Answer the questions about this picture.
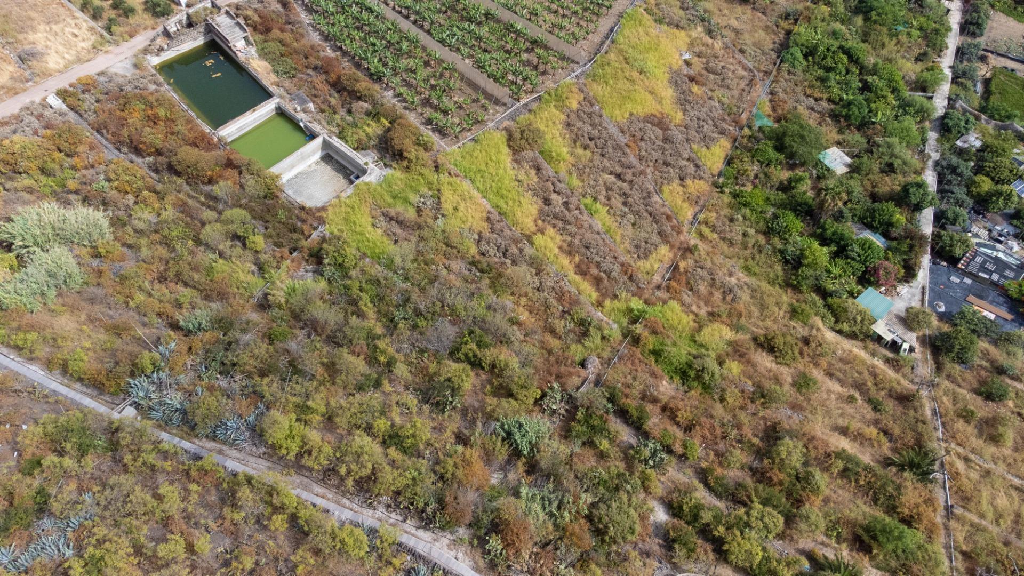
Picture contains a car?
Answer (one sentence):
No, I find no car anywhere in the image.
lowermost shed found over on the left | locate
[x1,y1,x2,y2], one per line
[288,91,318,121]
